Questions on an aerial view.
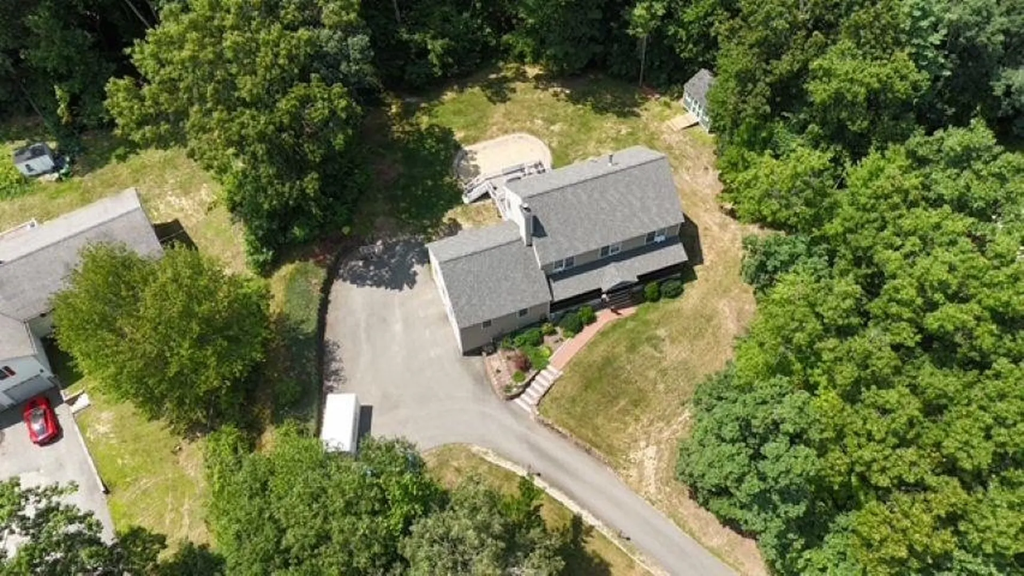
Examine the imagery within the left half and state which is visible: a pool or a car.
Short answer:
car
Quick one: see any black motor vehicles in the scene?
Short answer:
No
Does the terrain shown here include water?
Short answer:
No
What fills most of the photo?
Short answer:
trees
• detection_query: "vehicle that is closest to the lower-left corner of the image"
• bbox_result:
[19,394,59,452]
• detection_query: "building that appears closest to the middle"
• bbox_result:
[426,147,688,353]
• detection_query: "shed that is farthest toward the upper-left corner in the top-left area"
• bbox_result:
[5,136,54,176]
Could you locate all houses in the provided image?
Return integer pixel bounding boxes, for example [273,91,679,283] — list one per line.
[0,188,163,408]
[426,147,688,353]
